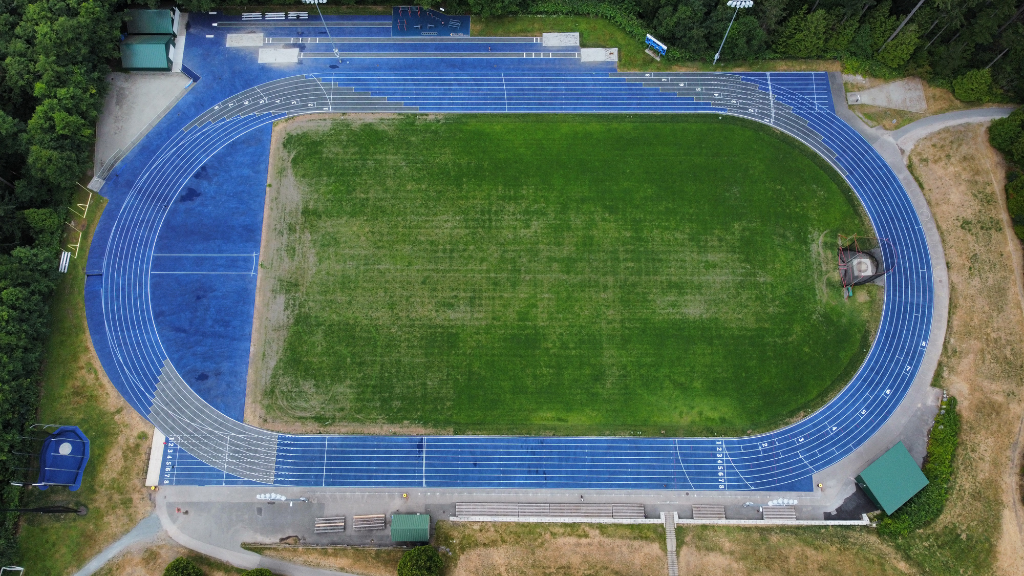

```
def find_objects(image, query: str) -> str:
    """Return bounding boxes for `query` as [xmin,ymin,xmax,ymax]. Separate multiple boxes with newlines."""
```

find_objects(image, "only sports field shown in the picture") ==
[243,114,882,435]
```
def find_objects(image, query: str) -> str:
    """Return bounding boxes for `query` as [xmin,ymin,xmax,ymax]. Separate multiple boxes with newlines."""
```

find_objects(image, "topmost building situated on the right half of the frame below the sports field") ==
[854,441,929,515]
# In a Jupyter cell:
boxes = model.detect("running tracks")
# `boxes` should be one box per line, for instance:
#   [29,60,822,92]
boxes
[85,12,935,492]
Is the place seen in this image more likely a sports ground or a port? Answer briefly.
sports ground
